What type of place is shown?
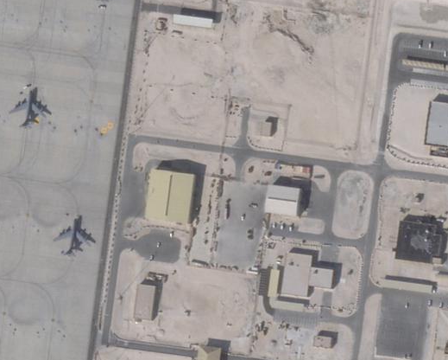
airport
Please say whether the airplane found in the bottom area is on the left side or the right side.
left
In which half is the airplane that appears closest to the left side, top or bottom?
top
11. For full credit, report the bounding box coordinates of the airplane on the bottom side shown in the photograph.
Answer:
[53,219,90,255]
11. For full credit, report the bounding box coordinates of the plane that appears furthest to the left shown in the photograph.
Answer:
[10,91,44,126]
